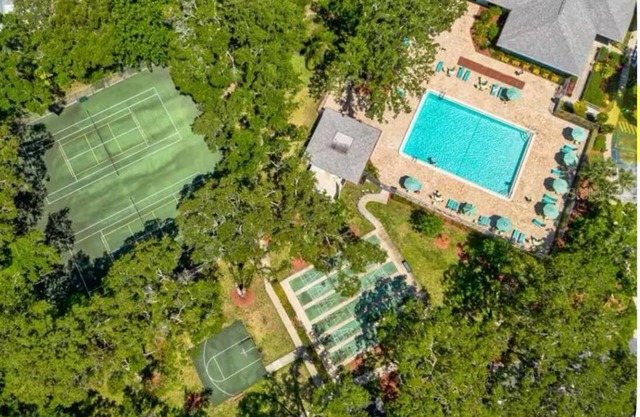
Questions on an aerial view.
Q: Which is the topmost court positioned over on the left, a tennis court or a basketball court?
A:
tennis court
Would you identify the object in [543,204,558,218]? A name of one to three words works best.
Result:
umbrella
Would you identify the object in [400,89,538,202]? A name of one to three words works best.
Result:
swimming pool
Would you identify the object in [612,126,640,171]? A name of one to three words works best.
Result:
sports court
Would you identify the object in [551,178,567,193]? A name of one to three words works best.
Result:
umbrella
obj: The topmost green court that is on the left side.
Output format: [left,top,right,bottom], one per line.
[11,55,221,224]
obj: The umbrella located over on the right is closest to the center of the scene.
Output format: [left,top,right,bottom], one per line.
[404,176,420,192]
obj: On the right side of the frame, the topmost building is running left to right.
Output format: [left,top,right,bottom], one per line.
[470,0,640,78]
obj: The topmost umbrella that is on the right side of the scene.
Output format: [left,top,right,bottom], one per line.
[504,86,519,101]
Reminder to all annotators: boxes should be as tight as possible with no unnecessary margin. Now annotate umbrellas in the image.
[404,176,420,192]
[462,203,476,216]
[562,151,576,165]
[504,86,519,101]
[569,126,584,141]
[551,178,567,193]
[496,216,511,231]
[543,204,558,218]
